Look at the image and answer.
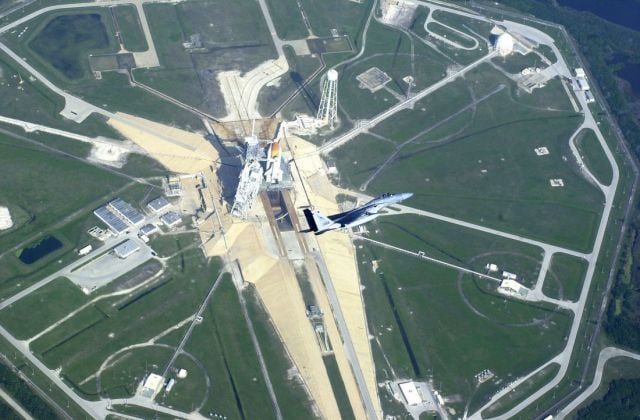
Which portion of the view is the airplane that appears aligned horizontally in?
center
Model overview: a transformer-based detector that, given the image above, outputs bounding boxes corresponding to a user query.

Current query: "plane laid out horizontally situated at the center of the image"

[302,195,411,234]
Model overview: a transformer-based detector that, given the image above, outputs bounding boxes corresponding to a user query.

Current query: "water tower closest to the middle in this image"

[316,68,340,129]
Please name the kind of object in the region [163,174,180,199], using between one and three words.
building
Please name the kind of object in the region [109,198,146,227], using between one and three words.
building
